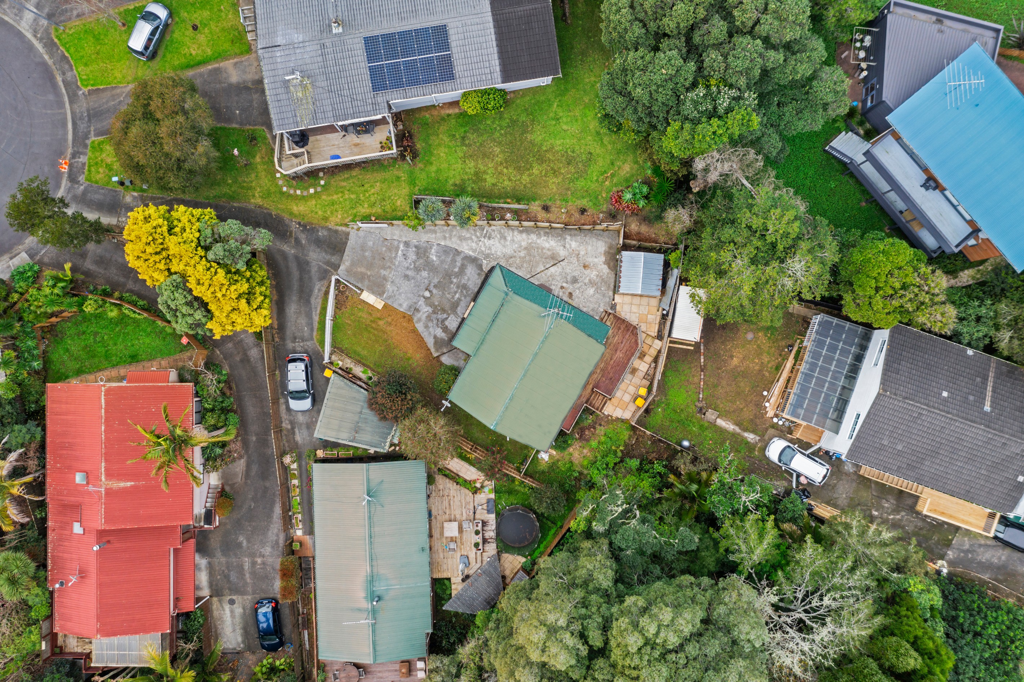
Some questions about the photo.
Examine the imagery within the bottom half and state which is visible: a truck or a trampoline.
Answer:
trampoline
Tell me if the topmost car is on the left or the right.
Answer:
left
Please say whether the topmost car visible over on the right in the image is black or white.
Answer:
white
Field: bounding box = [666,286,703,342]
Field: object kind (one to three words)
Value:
shed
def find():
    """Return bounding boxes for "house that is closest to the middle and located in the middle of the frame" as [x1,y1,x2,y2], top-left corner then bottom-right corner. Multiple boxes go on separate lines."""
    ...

[447,264,611,451]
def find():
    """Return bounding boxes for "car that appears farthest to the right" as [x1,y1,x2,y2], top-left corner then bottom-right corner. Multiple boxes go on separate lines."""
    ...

[999,524,1024,555]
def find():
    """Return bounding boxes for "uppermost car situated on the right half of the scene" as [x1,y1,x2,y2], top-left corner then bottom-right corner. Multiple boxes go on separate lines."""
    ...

[765,440,831,486]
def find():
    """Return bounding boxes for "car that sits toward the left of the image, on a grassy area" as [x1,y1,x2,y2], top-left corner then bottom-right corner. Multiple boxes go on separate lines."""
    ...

[124,0,170,60]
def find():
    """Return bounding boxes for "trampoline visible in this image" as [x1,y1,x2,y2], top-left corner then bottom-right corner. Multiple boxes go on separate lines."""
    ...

[495,504,544,565]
